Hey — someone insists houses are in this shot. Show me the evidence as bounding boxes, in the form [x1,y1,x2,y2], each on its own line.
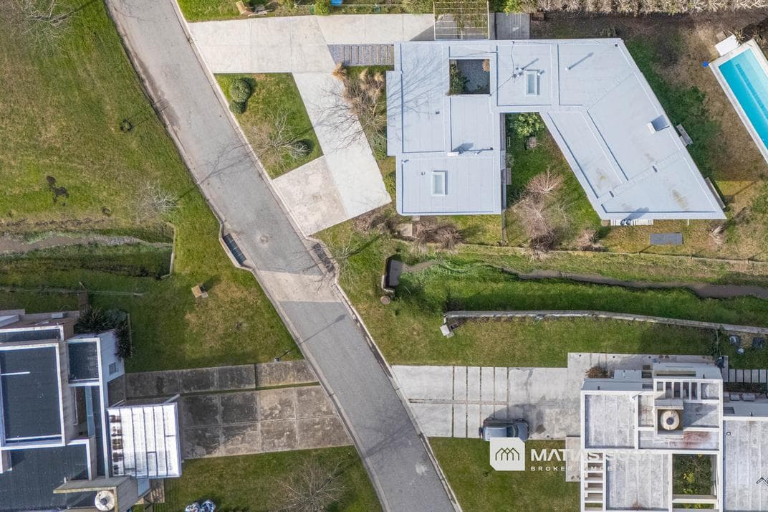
[0,319,196,512]
[386,38,725,224]
[581,364,768,512]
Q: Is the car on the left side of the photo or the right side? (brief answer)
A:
right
